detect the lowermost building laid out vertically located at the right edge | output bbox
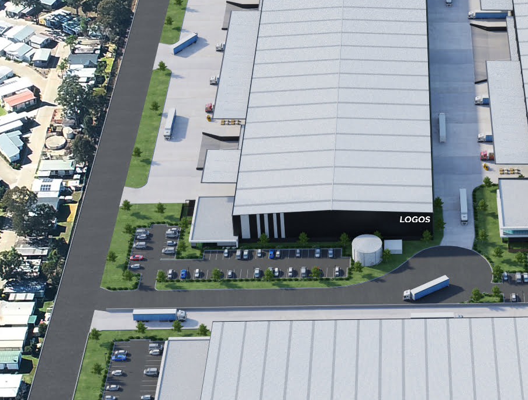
[496,178,528,250]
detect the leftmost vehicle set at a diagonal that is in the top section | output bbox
[173,31,201,52]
